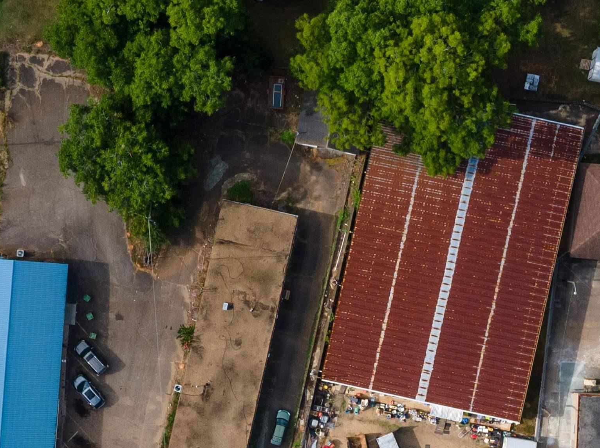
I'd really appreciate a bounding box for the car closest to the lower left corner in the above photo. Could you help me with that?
[73,374,107,409]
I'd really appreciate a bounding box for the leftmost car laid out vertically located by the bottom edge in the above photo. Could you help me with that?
[270,408,291,447]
